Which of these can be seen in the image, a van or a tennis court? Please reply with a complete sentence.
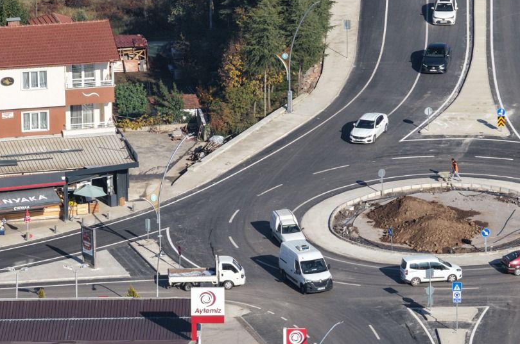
It is a van that can be seen here.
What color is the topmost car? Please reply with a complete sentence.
The color of the topmost car is white.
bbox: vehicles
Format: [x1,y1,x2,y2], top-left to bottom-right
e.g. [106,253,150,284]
[275,204,312,241]
[276,236,332,293]
[352,112,392,141]
[167,254,244,289]
[397,251,463,284]
[433,0,460,22]
[499,249,520,275]
[422,42,453,71]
